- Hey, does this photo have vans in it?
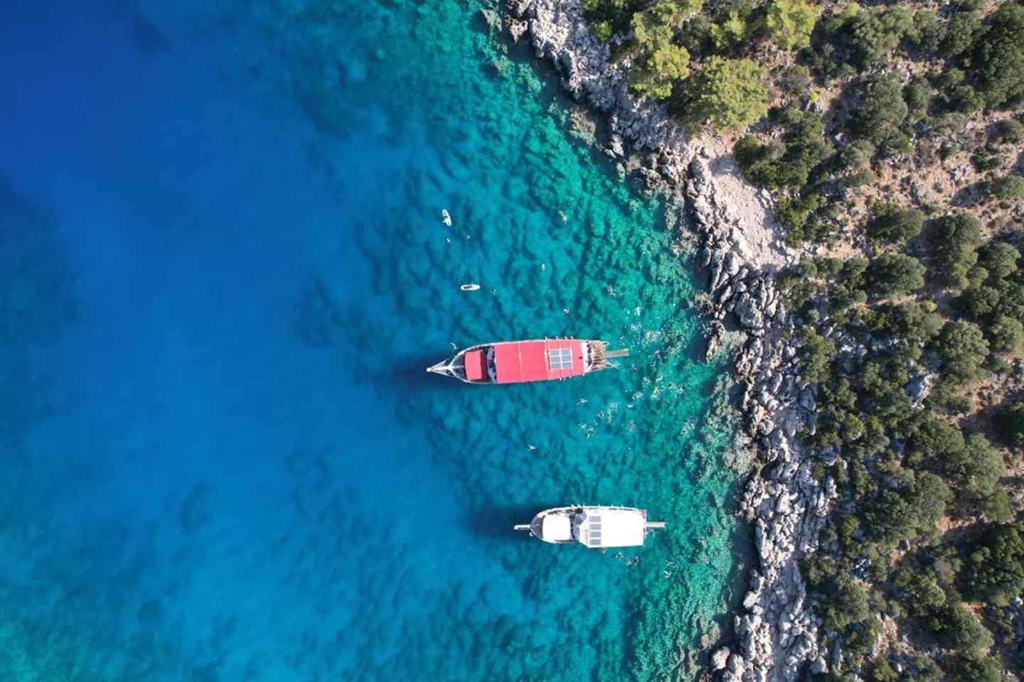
No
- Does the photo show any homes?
No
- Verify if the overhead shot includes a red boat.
Yes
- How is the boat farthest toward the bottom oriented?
from left to right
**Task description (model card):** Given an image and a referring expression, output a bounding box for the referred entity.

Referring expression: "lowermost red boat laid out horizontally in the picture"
[426,338,630,384]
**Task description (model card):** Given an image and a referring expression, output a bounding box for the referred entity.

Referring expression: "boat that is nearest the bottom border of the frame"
[514,503,667,548]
